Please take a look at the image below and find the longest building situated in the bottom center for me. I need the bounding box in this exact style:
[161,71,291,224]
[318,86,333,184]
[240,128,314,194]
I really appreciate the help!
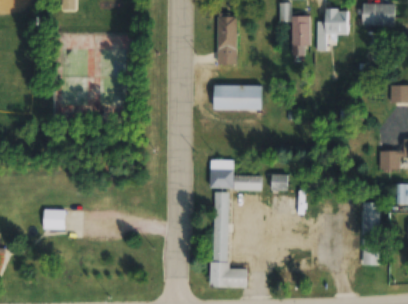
[210,159,248,288]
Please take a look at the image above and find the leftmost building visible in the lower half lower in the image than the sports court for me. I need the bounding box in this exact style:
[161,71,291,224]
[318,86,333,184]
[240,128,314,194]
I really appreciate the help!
[42,208,66,231]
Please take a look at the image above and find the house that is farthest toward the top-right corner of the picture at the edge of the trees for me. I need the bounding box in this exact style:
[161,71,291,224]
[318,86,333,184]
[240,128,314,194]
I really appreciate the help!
[362,3,397,26]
